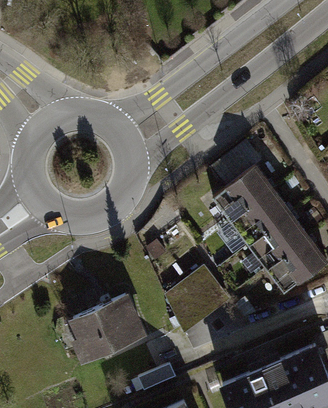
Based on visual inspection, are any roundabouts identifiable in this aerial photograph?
Yes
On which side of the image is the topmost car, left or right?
right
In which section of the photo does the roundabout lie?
left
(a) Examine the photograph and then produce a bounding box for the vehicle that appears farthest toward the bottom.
[160,348,180,361]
